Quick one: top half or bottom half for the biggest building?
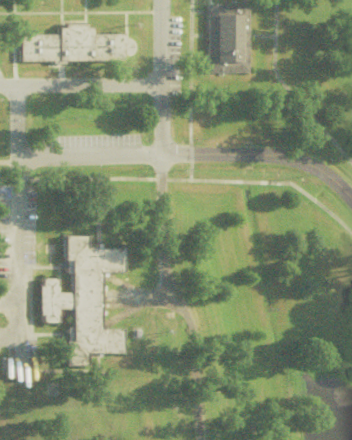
bottom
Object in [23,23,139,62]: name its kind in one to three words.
building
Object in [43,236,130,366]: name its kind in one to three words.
building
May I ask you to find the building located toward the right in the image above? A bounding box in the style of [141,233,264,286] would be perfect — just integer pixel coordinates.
[212,8,255,74]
